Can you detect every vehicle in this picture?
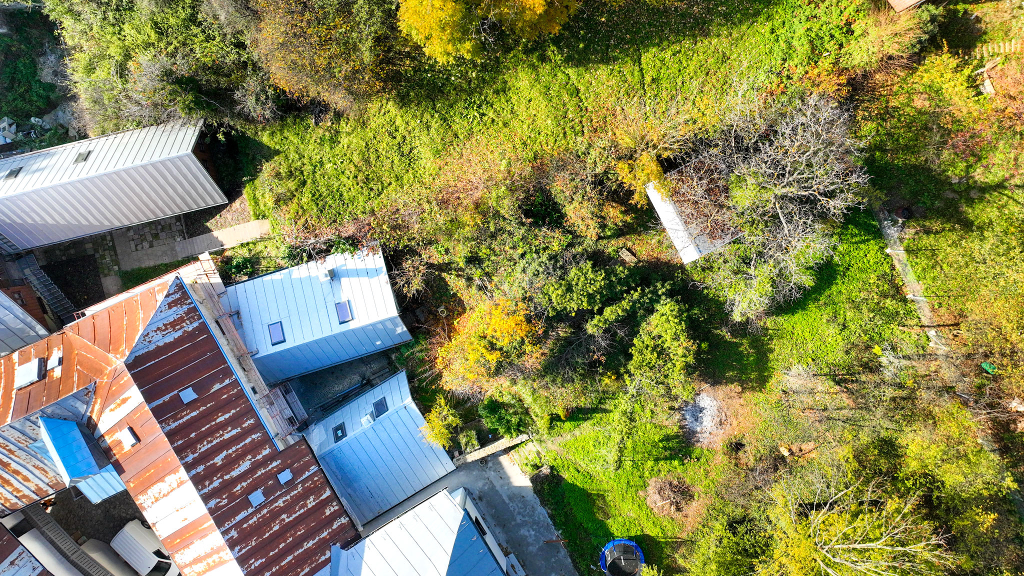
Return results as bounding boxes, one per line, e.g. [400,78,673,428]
[118,523,180,576]
[87,533,139,576]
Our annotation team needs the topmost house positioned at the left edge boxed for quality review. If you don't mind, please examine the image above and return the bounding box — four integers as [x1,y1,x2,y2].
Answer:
[0,118,237,252]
